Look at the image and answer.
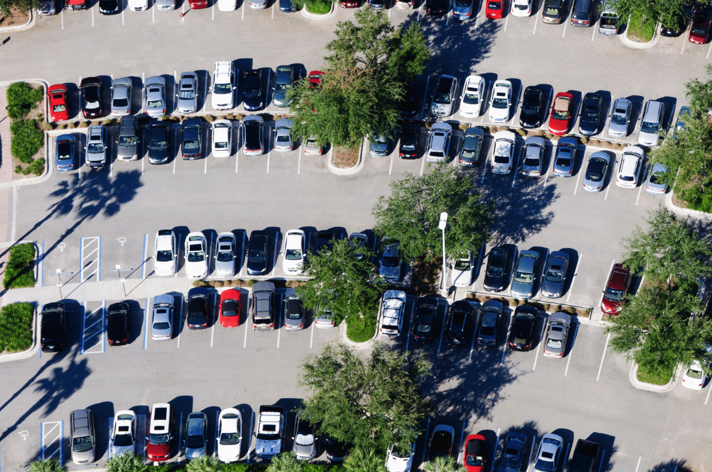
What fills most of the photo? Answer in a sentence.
The scene is dominated by paved ground.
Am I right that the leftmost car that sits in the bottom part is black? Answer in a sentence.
Yes, the leftmost car that sits in the bottom part is indeed black.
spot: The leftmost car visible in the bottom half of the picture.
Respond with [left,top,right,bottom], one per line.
[39,305,67,356]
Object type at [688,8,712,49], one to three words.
car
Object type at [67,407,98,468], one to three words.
car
